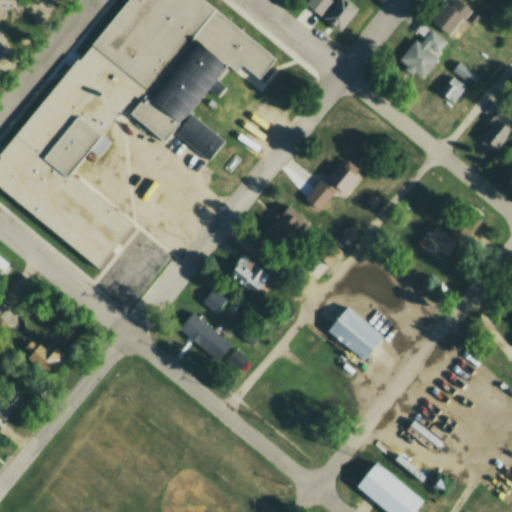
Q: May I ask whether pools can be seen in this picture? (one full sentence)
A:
No, I can see no pool in this picture.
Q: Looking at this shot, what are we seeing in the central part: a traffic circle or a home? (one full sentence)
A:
What appears in the central part is a home.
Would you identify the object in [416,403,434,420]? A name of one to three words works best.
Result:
vehicle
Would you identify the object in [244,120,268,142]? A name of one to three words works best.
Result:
bus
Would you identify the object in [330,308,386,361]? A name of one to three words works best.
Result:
barn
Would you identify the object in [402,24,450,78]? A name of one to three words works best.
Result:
house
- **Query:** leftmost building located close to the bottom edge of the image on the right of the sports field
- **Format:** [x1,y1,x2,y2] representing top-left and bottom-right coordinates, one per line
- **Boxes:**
[358,464,426,512]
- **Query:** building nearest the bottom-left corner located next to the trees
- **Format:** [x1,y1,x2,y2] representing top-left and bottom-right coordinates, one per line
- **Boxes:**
[28,341,60,372]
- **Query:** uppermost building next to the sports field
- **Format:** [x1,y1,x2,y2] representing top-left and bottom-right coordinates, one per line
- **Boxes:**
[0,0,277,268]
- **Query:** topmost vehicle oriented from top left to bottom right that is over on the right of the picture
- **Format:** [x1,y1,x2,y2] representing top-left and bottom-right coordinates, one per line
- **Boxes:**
[312,28,328,42]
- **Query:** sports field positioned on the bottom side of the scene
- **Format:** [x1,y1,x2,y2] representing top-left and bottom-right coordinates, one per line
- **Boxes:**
[12,367,290,512]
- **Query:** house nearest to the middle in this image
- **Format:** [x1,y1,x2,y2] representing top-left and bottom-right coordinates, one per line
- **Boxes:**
[234,258,270,290]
